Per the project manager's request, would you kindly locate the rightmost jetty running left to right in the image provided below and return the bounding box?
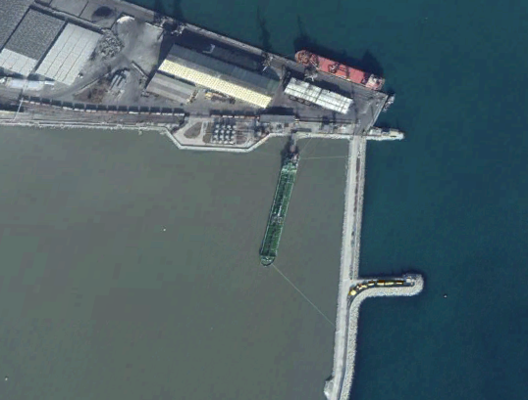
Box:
[367,128,405,141]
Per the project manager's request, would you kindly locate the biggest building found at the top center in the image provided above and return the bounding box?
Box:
[158,43,279,107]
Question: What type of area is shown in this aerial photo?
port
